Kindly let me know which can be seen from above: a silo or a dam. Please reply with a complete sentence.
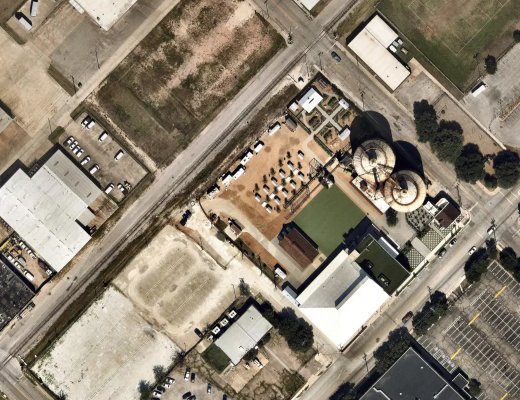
Of the two, only a silo appears.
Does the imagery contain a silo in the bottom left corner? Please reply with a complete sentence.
No, the scene shows no silo in the bottom left corner.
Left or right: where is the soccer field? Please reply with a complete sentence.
The soccer field appears in the right half of the scene.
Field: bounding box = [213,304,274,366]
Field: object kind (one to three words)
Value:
building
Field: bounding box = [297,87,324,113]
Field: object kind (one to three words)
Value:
house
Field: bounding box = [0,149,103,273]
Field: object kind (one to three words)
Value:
building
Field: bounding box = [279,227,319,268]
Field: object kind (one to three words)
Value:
barn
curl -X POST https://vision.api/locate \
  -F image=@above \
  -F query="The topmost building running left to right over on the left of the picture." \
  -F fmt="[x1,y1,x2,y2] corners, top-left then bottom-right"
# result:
[70,0,134,31]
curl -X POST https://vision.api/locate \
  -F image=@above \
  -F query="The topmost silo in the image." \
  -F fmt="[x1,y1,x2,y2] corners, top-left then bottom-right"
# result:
[354,139,397,181]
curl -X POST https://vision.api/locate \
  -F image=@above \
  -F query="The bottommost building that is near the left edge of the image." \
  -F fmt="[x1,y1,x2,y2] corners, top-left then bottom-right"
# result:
[0,257,36,324]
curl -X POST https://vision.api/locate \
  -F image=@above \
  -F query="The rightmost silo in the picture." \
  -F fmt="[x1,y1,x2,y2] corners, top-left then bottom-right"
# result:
[385,170,428,212]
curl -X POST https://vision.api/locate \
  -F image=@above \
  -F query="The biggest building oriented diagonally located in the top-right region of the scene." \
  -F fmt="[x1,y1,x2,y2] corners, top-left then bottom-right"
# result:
[348,26,411,90]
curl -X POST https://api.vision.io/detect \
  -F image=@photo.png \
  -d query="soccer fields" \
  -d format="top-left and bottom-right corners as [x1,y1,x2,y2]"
[377,0,520,94]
